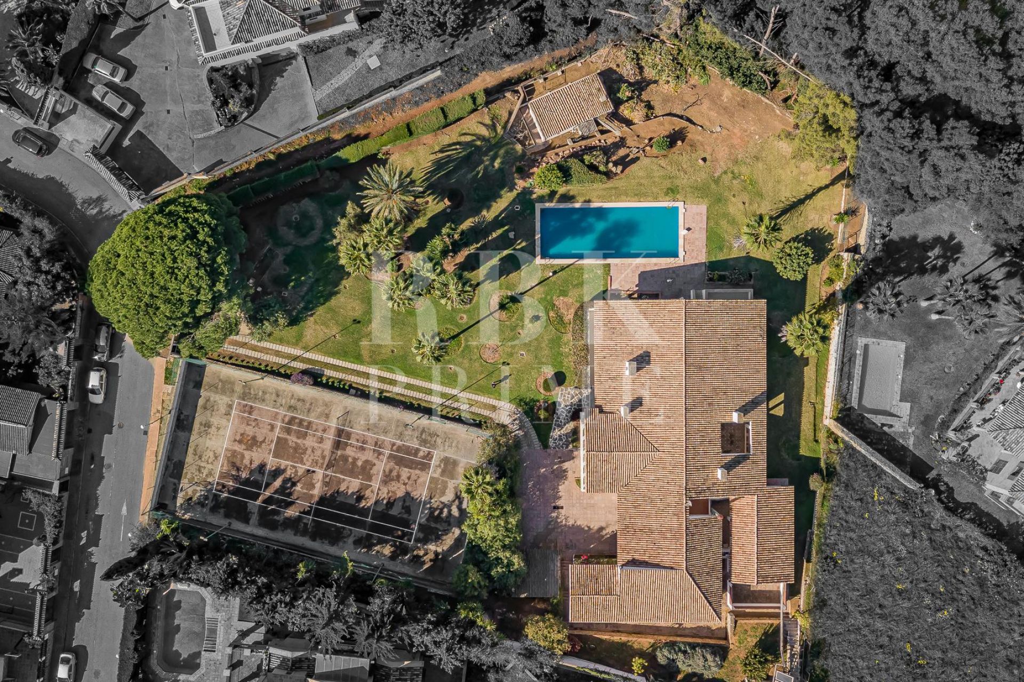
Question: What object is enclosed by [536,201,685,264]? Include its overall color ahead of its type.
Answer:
blue swimming pool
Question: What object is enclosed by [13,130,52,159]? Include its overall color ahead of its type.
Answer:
black car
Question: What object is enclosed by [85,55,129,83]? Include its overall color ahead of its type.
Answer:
gray car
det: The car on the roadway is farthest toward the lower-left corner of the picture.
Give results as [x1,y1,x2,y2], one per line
[57,649,80,682]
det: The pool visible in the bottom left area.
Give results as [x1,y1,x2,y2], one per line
[150,583,214,681]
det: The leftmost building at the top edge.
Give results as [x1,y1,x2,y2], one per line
[183,0,363,72]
